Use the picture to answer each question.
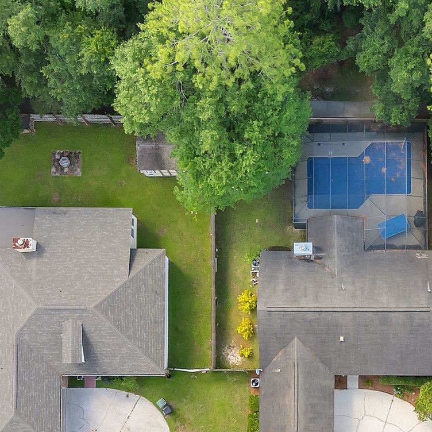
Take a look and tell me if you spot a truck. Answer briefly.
No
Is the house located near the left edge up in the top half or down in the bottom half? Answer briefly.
bottom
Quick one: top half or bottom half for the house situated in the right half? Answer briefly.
bottom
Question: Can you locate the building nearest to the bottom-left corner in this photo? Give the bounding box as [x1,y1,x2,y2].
[0,206,170,432]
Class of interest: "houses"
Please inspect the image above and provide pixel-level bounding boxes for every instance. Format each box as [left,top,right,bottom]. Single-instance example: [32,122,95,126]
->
[0,206,170,432]
[256,215,432,432]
